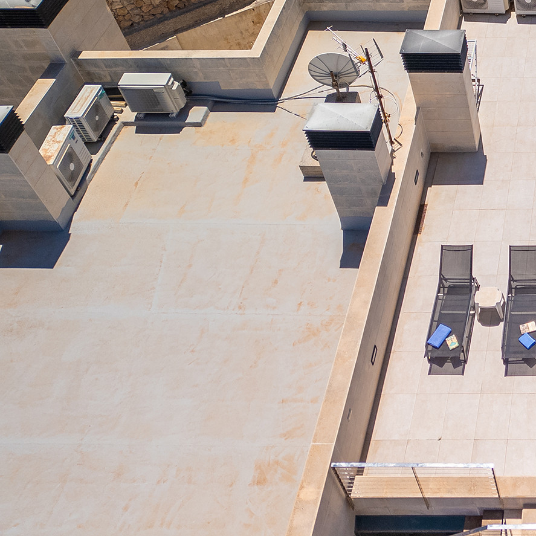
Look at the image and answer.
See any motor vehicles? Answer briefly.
No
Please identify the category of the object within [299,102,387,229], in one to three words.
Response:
chimney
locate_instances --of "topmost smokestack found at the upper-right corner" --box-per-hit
[401,27,482,151]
